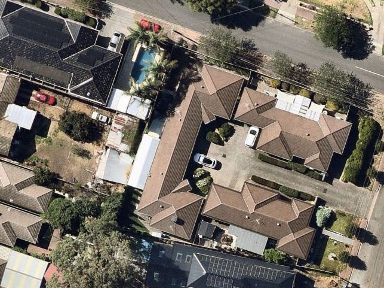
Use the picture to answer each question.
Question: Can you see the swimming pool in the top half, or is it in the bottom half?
top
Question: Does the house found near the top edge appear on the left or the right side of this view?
left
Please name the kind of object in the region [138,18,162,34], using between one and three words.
car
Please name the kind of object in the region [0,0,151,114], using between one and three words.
house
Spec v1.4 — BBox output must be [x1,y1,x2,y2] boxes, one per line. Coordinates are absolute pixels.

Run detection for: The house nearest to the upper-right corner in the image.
[234,86,354,174]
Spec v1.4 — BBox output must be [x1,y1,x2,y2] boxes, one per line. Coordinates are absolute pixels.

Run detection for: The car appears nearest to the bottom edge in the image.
[193,152,218,167]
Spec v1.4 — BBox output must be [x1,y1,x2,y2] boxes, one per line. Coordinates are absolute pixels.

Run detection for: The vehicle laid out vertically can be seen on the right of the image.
[245,124,259,150]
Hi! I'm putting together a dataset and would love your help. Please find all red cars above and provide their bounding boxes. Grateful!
[32,91,57,105]
[138,18,162,34]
